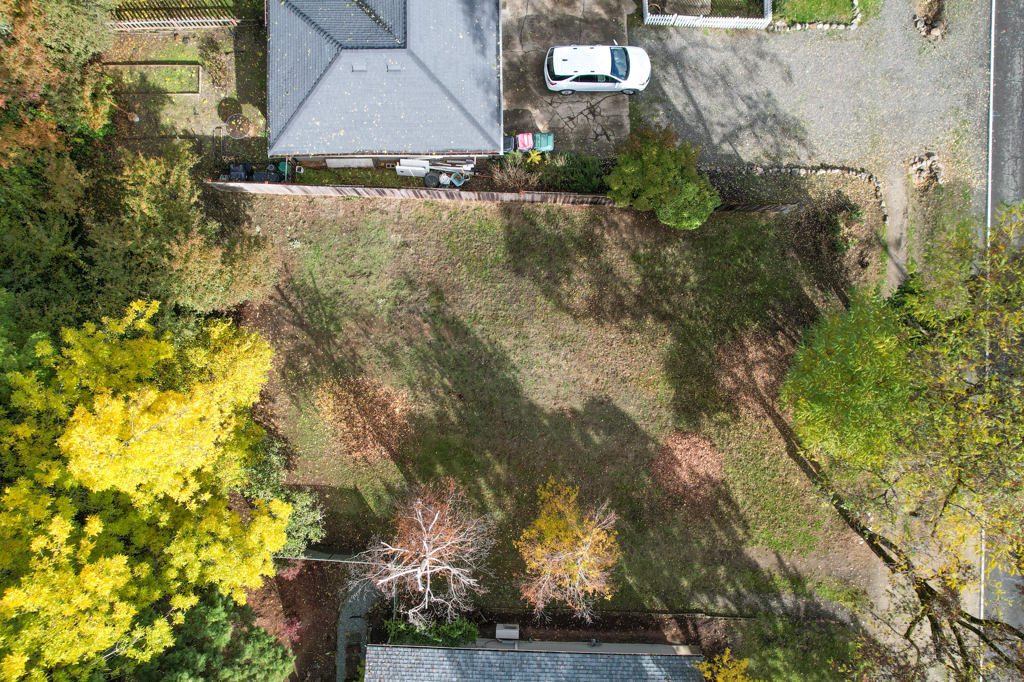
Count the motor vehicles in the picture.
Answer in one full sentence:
In total, 1 motor vehicle can be seen.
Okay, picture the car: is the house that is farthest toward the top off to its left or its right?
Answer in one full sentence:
Looking at the photo, the house that is farthest toward the top lies to the left of the car.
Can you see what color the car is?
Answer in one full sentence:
The car looks white in the image.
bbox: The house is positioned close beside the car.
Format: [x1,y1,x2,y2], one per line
[264,0,505,160]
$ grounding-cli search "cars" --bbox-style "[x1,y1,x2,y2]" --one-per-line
[544,39,652,97]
